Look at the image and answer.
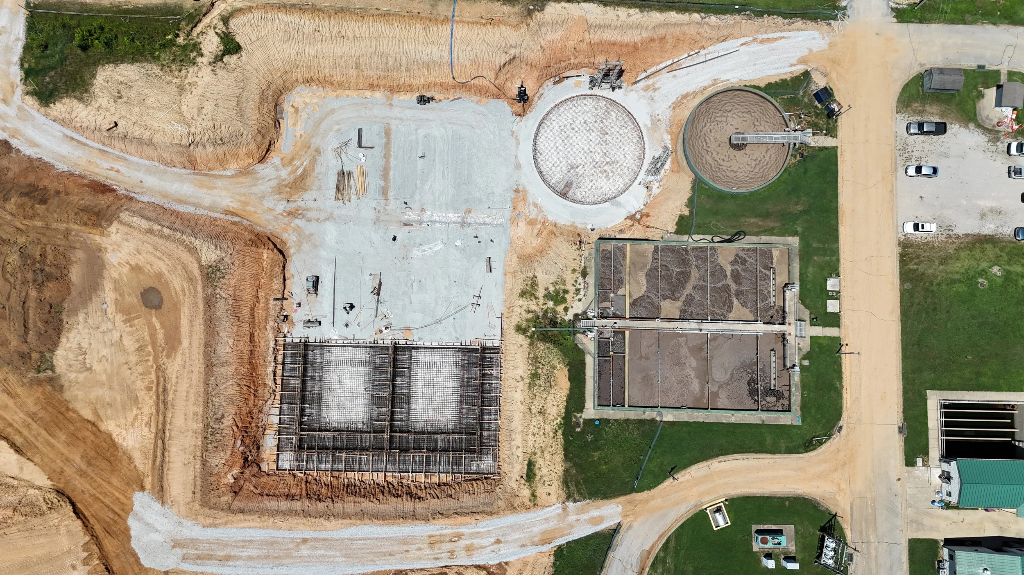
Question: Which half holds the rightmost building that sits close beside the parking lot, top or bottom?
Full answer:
Seen from above, the rightmost building that sits close beside the parking lot lies in the top half of the view.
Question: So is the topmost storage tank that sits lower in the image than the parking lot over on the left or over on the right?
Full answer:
It is on the right.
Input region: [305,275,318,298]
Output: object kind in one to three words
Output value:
vehicle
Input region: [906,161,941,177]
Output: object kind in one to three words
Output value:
car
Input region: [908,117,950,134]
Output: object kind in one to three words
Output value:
vehicle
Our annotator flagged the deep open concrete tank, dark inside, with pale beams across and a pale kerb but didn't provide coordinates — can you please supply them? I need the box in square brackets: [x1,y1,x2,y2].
[938,400,1024,458]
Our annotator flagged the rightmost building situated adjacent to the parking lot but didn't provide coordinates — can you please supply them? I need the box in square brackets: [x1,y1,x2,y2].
[985,78,1024,111]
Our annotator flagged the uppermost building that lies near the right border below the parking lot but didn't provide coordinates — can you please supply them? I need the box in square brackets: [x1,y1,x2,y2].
[936,457,1024,508]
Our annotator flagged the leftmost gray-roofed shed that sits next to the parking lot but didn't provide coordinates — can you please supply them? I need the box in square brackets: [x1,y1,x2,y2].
[921,68,968,93]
